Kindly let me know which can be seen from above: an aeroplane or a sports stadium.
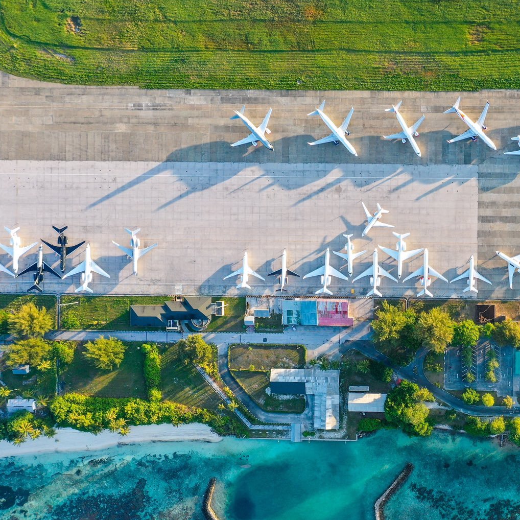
aeroplane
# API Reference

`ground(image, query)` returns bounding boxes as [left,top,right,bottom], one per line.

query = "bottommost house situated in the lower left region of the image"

[6,398,37,413]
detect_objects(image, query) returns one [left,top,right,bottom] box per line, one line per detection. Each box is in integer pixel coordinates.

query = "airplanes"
[309,102,358,156]
[112,228,158,275]
[446,98,497,150]
[0,227,38,273]
[304,248,350,296]
[377,232,423,278]
[225,251,266,289]
[39,226,85,272]
[384,102,425,156]
[63,244,111,291]
[404,249,448,296]
[269,250,300,291]
[229,102,274,150]
[17,245,63,292]
[362,201,395,236]
[334,235,367,277]
[352,249,398,296]
[497,251,520,288]
[452,255,493,293]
